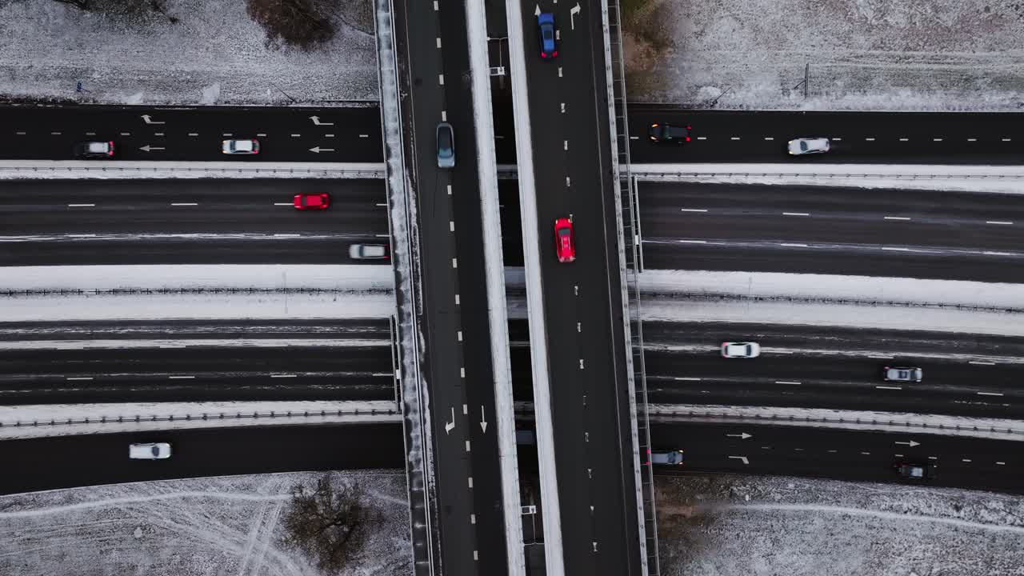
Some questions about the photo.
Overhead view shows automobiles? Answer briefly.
Yes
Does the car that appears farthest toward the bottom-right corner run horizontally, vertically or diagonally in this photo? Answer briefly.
horizontally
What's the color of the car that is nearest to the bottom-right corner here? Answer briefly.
black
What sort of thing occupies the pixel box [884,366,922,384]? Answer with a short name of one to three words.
car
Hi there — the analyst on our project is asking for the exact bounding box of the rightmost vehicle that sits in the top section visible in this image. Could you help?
[788,136,831,156]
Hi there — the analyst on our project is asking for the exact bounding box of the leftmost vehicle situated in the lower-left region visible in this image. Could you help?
[128,442,173,461]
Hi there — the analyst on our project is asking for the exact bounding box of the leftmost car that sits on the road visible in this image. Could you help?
[74,140,114,159]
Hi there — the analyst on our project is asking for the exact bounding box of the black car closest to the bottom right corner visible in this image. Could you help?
[893,462,936,482]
